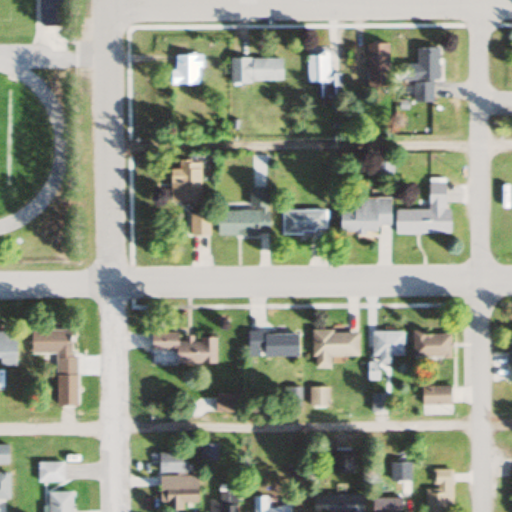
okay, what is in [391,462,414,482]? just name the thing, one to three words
building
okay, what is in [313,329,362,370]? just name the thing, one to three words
house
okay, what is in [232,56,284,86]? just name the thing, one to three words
house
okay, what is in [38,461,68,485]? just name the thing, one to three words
building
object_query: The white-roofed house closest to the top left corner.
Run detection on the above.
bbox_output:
[172,51,206,86]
